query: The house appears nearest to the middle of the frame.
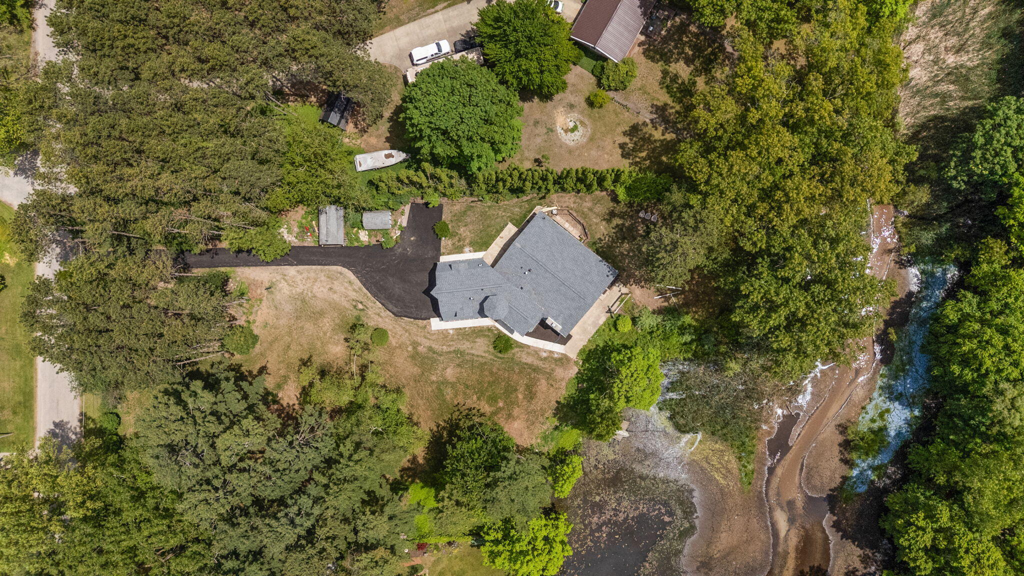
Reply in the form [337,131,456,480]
[433,210,619,339]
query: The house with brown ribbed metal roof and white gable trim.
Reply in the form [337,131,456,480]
[570,0,657,64]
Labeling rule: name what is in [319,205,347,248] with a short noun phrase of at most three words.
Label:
shed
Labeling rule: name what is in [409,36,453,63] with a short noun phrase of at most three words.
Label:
truck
